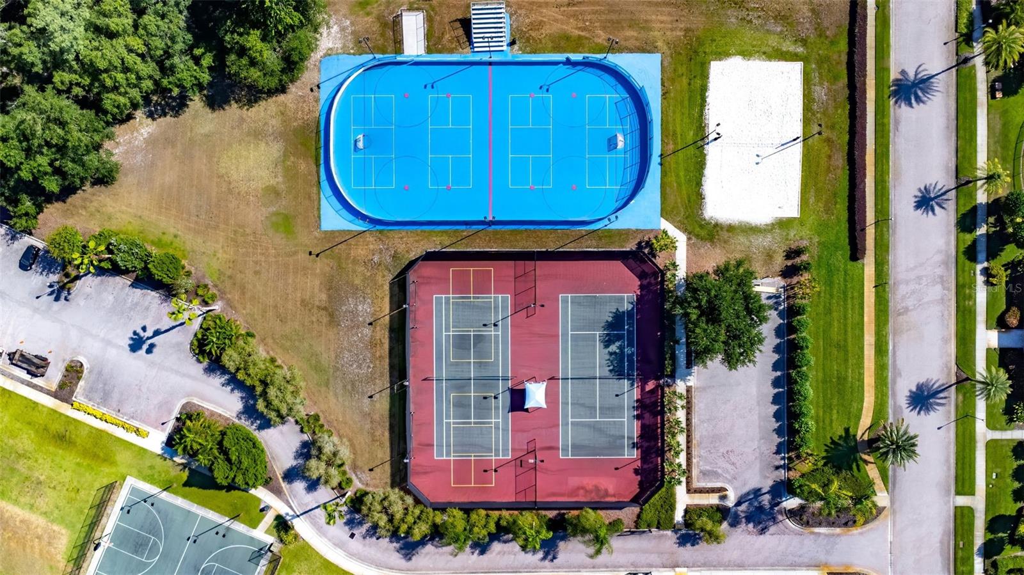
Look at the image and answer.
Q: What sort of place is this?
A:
sports ground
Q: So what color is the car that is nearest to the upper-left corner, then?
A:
black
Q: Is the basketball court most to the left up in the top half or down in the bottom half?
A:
bottom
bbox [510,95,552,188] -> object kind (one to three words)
sports court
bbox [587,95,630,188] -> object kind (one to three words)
sports court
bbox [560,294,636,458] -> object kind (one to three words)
tennis court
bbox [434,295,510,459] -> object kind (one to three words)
tennis court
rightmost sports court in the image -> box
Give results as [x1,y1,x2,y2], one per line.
[703,56,803,223]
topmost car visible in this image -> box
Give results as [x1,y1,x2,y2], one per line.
[15,243,38,272]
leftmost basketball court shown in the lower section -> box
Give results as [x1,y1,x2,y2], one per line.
[86,476,277,575]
